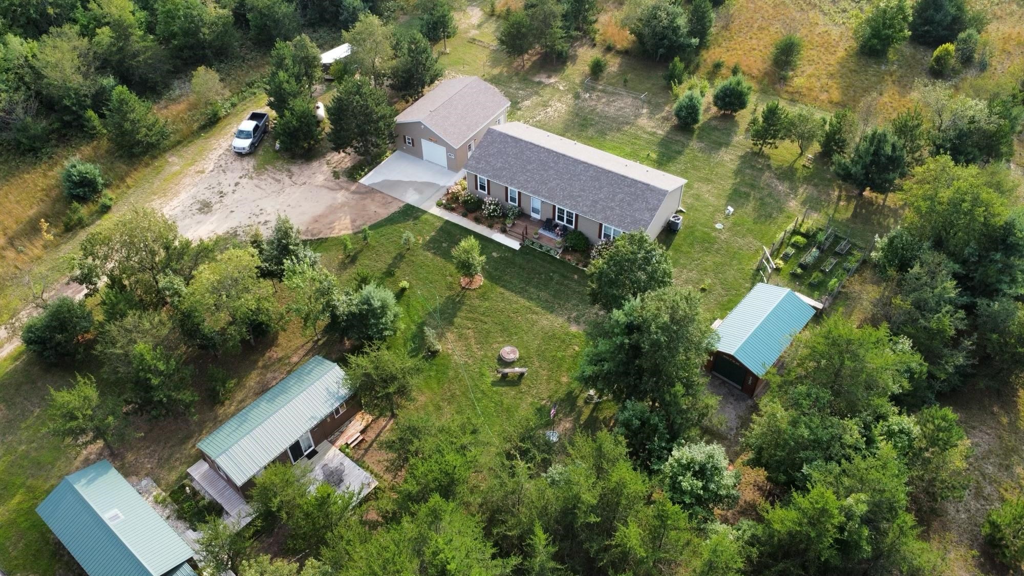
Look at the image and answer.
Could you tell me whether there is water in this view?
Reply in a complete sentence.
No, no water is visible.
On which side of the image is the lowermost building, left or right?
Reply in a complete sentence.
It is on the left.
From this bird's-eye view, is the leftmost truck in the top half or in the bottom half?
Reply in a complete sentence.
It is in the top half that the leftmost truck appears.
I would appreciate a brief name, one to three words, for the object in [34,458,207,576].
building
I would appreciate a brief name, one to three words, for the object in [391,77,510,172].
building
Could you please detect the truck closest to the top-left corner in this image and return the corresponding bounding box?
[228,110,272,152]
